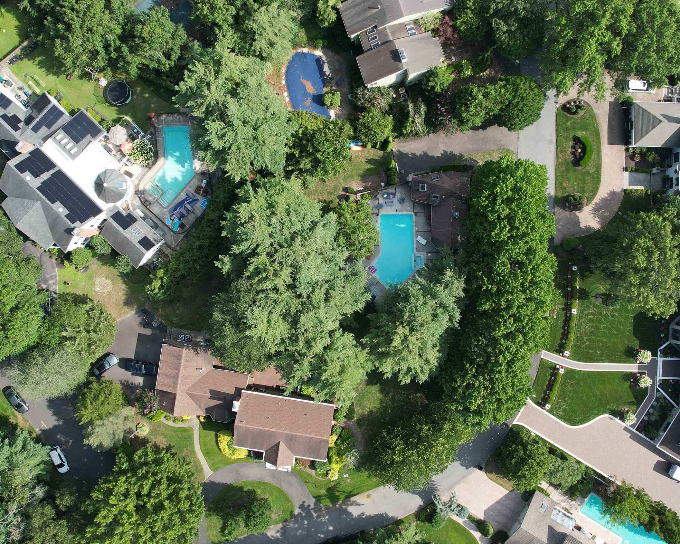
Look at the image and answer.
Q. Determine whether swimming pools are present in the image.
Yes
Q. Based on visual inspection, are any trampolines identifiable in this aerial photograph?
Yes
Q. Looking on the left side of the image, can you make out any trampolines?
Yes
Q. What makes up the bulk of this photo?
trees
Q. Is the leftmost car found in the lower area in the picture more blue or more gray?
gray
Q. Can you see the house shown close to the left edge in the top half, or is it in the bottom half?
top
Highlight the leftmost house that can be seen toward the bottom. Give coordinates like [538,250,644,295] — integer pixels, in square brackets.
[154,343,335,471]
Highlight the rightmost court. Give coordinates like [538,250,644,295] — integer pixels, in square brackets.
[172,0,206,36]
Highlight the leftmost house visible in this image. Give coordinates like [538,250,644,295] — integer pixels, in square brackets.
[0,86,169,266]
